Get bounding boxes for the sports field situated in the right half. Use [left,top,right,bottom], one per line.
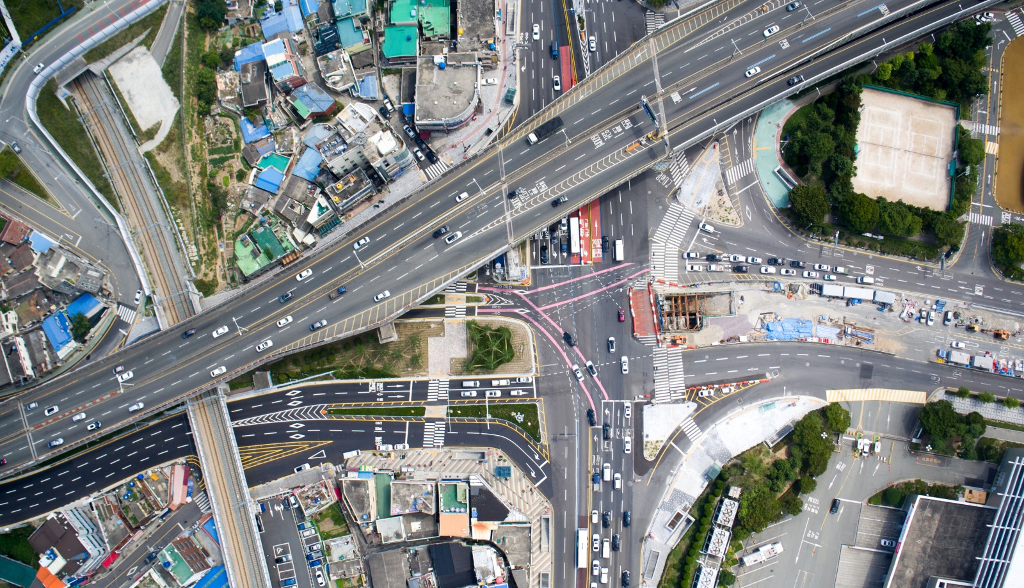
[995,35,1024,214]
